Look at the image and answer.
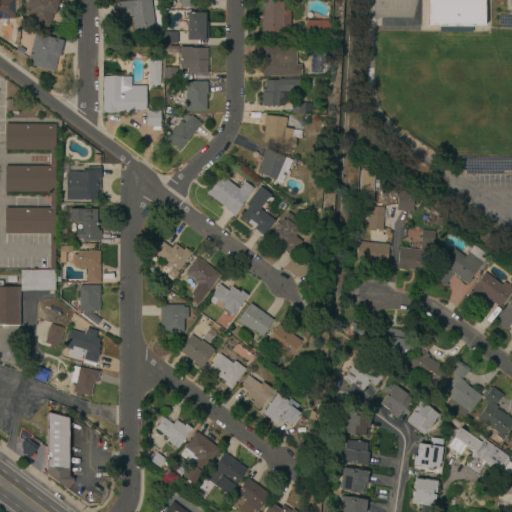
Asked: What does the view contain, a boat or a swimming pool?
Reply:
swimming pool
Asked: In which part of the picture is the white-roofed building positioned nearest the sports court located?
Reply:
top right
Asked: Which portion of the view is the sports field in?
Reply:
top right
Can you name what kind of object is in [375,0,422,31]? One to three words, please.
sports court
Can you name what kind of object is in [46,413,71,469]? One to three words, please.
building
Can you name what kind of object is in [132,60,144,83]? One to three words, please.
swimming pool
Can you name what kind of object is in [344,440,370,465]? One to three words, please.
house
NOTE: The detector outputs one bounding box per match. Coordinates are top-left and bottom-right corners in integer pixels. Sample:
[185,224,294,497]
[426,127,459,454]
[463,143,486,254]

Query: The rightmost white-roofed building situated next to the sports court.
[429,0,488,31]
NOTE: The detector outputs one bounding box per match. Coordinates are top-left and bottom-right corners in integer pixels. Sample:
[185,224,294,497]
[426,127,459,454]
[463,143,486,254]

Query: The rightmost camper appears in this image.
[487,306,502,324]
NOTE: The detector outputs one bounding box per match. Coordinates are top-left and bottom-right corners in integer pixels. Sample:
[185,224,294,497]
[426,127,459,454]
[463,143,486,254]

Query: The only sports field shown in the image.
[376,30,512,158]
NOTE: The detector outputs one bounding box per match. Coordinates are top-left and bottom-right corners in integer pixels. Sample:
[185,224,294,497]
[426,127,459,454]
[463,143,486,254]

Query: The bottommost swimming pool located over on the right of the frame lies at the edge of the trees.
[489,265,509,282]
